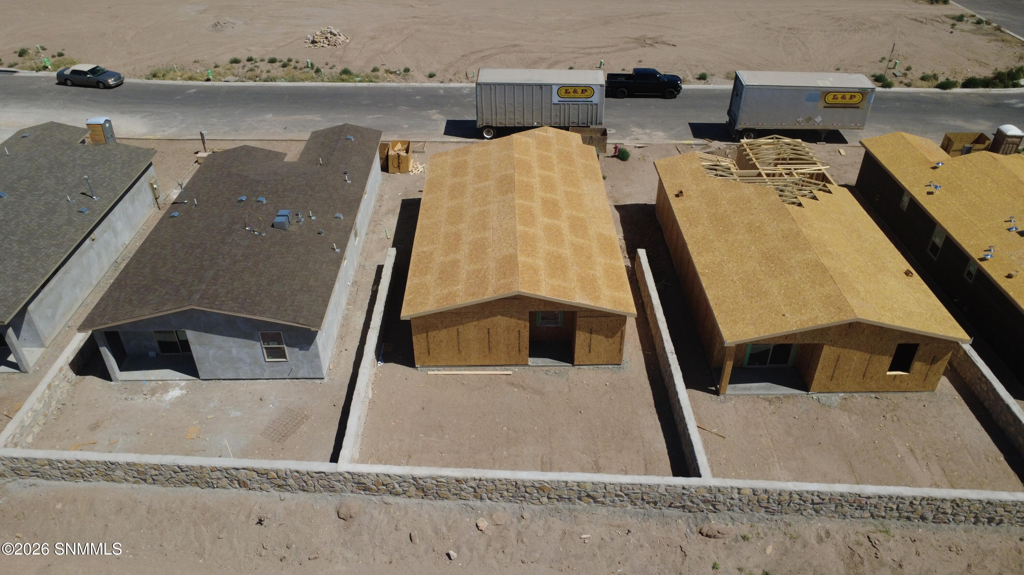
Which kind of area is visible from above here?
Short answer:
residential area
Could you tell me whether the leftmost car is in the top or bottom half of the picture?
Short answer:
top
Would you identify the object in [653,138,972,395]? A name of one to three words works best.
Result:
house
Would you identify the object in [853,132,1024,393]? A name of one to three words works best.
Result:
house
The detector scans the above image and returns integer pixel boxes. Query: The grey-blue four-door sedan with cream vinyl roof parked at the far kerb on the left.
[55,62,126,88]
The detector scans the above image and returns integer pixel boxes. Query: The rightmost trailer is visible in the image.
[728,72,878,140]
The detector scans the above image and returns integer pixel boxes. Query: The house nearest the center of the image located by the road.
[400,126,637,370]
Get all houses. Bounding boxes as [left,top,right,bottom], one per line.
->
[400,126,637,370]
[653,138,972,395]
[0,124,163,378]
[77,124,383,386]
[853,132,1024,393]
